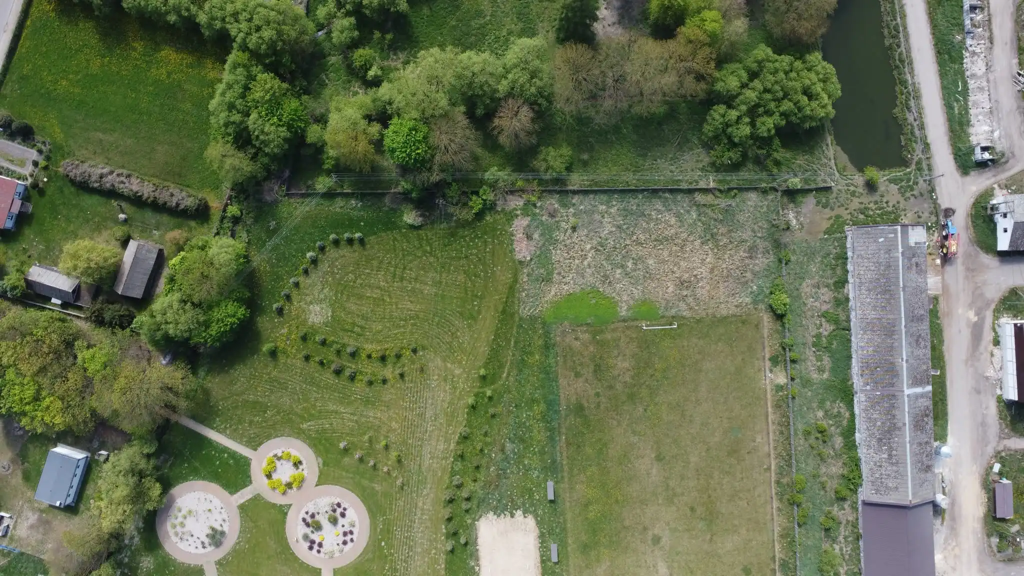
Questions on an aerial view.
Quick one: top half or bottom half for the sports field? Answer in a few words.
bottom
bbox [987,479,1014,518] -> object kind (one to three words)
shed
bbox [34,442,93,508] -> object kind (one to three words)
building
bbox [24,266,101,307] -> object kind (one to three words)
barn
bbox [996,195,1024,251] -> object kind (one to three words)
building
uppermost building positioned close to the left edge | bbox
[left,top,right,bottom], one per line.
[0,175,30,229]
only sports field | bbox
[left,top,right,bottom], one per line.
[558,316,774,576]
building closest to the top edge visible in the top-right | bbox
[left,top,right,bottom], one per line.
[960,0,988,45]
